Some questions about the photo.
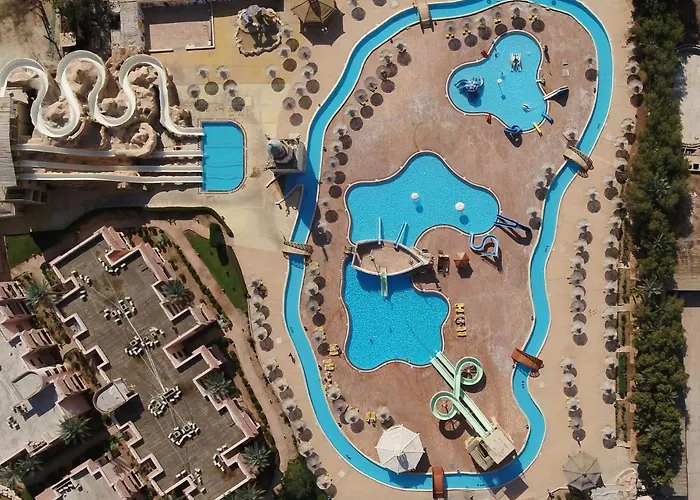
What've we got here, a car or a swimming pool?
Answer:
swimming pool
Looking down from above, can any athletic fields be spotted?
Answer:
No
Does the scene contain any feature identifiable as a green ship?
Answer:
No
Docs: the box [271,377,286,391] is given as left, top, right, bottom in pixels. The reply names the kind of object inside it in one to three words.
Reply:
umbrella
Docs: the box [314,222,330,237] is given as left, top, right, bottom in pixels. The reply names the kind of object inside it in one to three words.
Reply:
umbrella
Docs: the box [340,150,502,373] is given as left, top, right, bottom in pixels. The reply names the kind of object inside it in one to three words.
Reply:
swimming pool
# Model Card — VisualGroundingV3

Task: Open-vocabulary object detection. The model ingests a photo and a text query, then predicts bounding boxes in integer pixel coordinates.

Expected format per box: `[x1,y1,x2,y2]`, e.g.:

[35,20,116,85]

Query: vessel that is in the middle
[345,240,434,276]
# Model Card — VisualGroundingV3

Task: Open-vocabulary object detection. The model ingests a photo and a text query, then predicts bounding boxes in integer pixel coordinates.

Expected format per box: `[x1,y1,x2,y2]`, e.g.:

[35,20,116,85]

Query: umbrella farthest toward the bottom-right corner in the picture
[601,425,615,438]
